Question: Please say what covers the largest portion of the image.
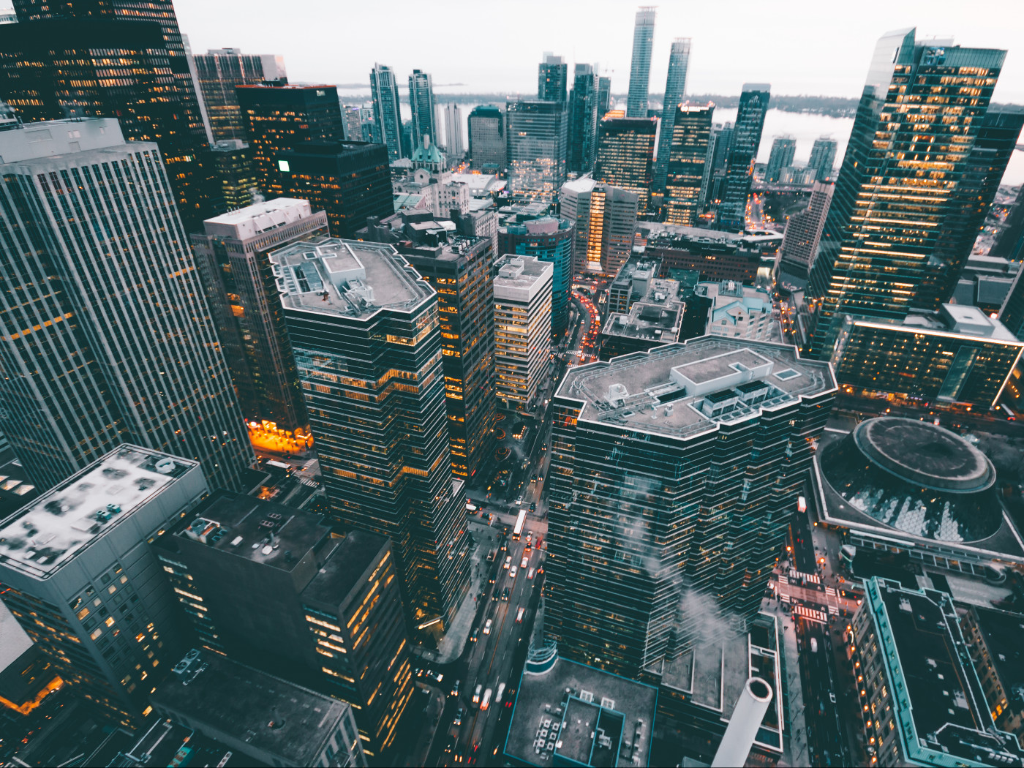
buildings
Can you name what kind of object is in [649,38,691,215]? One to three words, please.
building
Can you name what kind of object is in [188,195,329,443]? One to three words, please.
building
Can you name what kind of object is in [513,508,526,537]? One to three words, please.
vehicle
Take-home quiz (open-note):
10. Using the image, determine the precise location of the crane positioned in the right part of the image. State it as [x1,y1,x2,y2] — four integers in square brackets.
[605,377,636,422]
